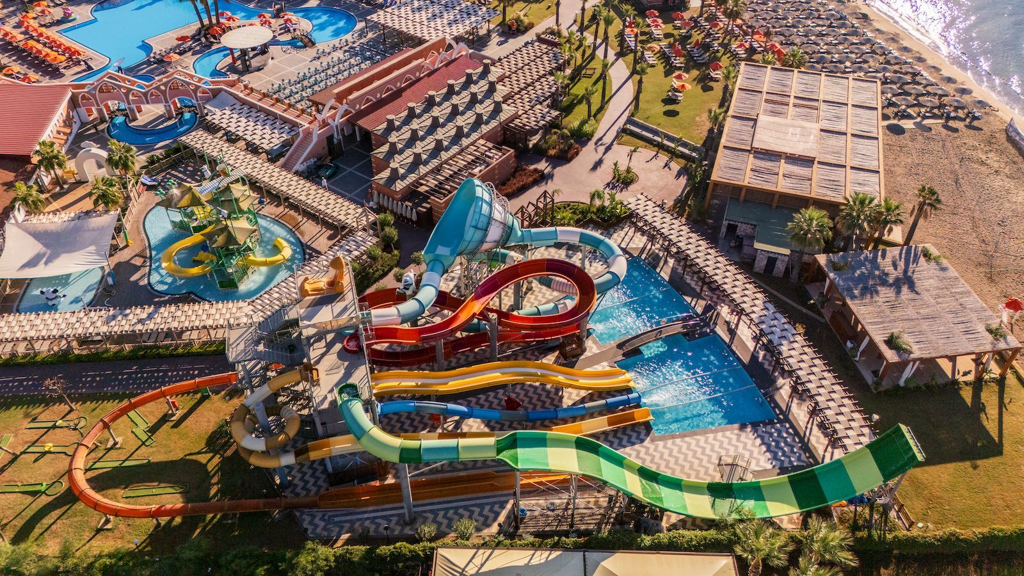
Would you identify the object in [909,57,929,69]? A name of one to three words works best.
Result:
umbrella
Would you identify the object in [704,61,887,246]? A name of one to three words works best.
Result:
building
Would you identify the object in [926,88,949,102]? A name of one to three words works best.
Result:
umbrella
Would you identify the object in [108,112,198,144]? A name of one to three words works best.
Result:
swimming pool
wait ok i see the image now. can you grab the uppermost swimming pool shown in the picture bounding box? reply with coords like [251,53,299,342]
[59,0,356,87]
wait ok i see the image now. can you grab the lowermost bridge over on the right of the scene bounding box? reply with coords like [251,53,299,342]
[612,311,715,357]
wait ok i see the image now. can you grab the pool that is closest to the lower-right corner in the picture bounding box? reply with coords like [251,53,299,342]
[592,259,774,434]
